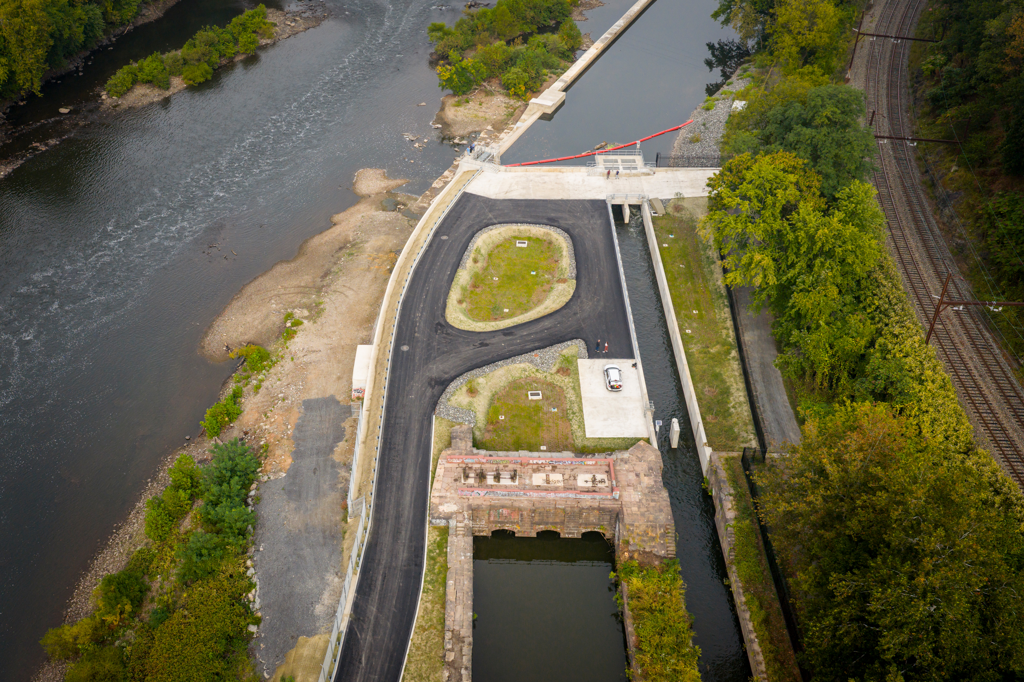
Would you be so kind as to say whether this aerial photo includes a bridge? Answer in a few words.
Yes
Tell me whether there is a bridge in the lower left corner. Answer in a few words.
No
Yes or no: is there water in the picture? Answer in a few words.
Yes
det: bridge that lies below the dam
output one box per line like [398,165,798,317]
[606,187,650,226]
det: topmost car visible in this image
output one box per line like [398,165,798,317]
[603,366,627,395]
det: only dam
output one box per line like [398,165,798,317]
[480,0,654,159]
